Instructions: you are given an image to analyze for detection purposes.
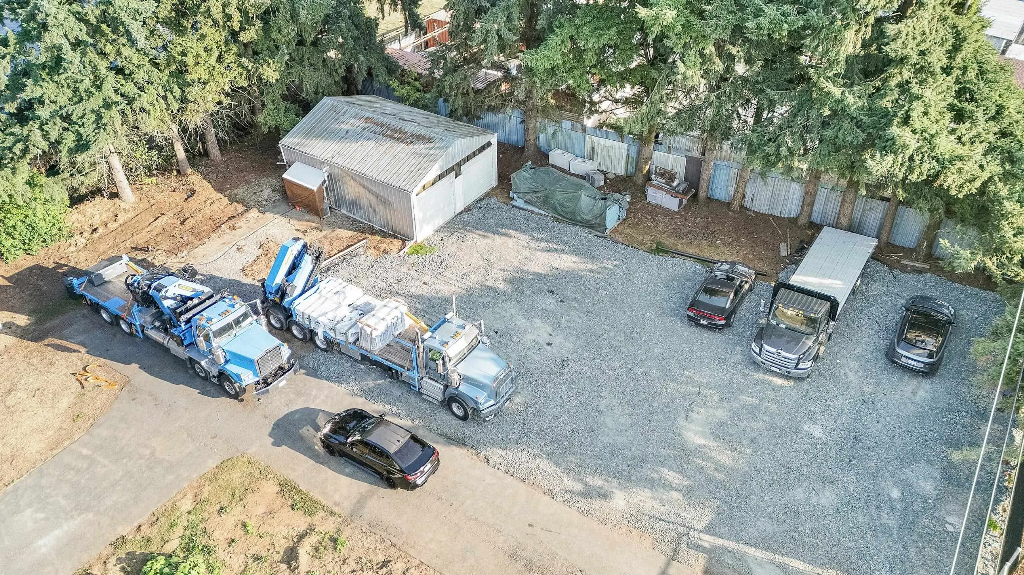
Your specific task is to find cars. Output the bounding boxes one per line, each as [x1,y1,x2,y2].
[320,409,445,491]
[685,262,759,335]
[884,298,956,381]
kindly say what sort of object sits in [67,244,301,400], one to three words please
truck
